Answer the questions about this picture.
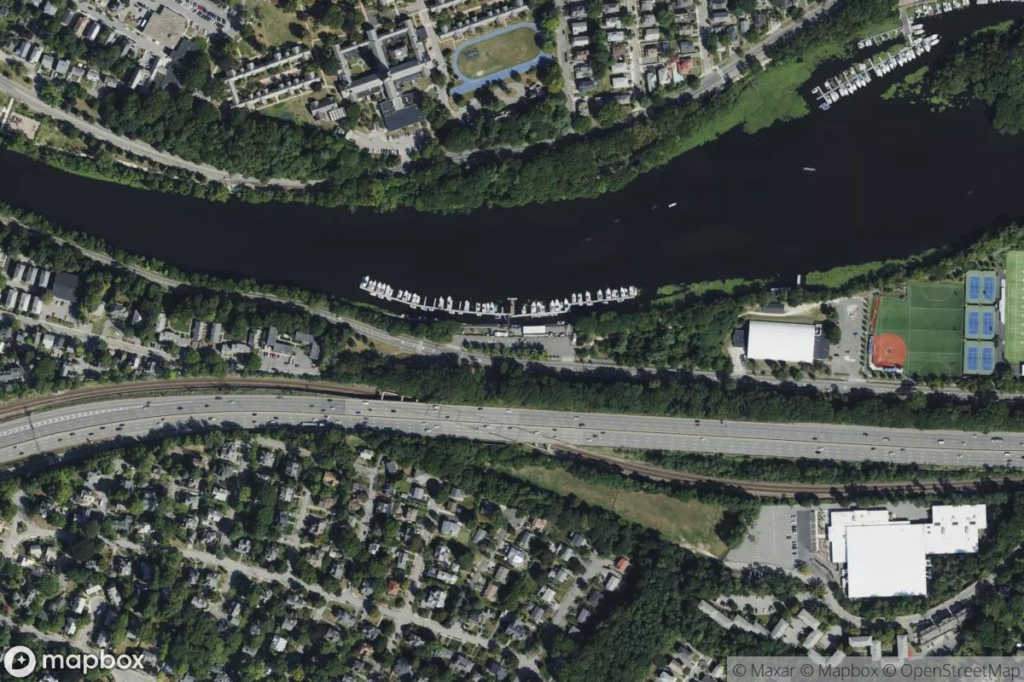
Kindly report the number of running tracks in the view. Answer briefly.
1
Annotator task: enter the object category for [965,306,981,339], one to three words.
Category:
tennis court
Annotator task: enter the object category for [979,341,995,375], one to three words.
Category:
tennis court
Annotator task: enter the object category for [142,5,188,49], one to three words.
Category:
building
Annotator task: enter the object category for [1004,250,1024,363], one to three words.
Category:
sports field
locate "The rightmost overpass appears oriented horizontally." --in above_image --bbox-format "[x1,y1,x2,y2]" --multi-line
[367,400,572,445]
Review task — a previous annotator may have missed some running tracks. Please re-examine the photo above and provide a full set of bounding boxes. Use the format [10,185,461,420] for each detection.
[451,20,549,93]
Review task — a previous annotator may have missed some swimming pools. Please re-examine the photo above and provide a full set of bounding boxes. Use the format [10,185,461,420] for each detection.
[672,62,685,84]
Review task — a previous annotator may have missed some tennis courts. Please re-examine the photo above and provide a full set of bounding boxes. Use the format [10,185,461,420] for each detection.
[964,341,979,375]
[981,306,997,339]
[981,270,997,303]
[965,270,981,303]
[979,341,995,375]
[965,306,981,339]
